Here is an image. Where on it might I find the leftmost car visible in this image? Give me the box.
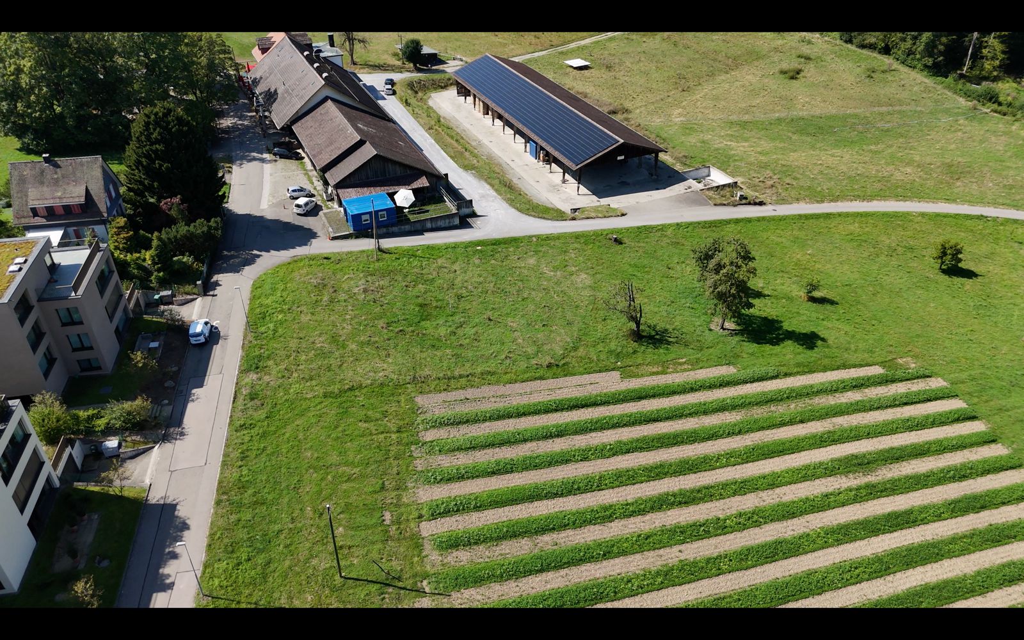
[189,316,213,341]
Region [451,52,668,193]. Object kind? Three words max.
building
